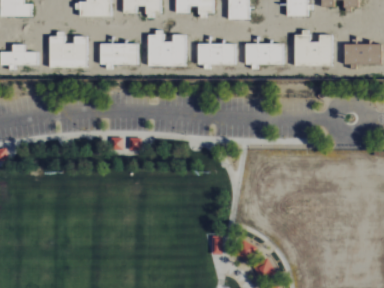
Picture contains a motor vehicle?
No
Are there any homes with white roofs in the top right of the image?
Yes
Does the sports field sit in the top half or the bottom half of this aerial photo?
bottom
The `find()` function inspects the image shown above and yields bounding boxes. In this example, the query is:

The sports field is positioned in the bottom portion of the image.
[0,136,233,288]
